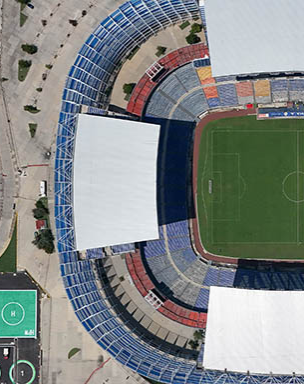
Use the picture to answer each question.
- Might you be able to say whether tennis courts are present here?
No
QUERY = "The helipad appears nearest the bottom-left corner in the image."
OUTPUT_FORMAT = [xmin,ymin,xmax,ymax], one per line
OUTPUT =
[8,360,35,384]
